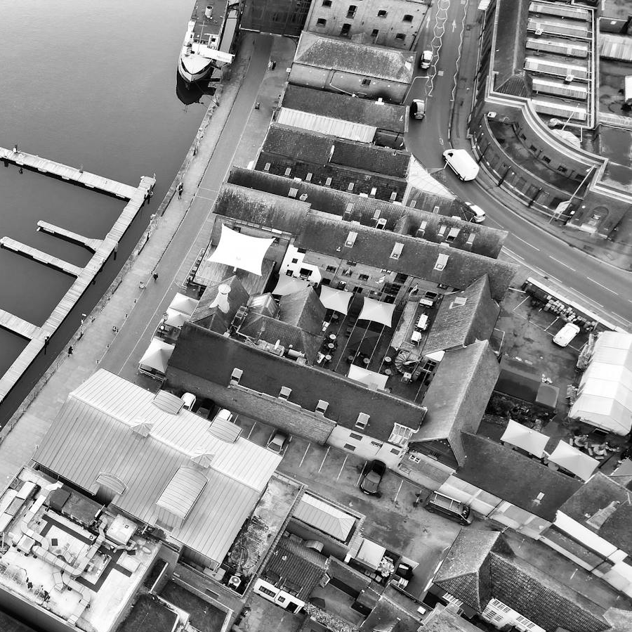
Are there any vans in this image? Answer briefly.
Yes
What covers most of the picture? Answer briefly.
buildings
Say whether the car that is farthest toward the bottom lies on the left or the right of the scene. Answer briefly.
right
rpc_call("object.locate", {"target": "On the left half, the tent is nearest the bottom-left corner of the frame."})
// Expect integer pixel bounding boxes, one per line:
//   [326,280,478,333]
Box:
[137,337,176,387]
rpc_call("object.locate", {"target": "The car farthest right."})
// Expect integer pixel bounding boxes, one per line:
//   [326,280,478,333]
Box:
[552,323,580,347]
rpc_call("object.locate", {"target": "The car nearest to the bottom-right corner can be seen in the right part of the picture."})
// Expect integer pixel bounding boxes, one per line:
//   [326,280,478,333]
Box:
[424,486,469,524]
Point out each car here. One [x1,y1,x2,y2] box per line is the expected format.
[359,459,390,494]
[424,486,469,524]
[214,403,235,419]
[264,424,291,455]
[418,53,434,71]
[411,100,425,121]
[196,394,217,421]
[466,202,488,223]
[182,386,197,411]
[552,323,580,347]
